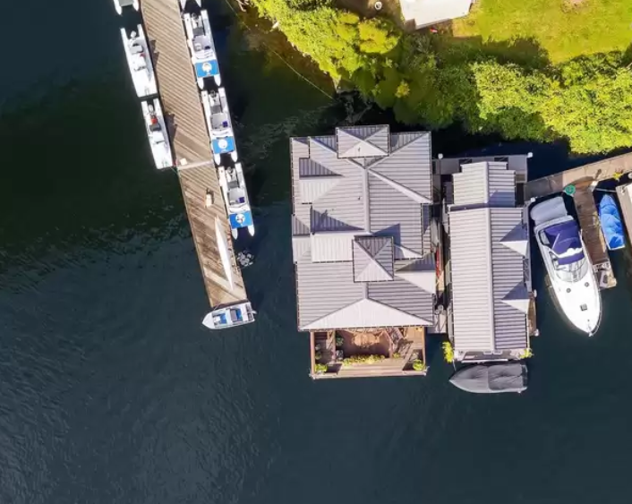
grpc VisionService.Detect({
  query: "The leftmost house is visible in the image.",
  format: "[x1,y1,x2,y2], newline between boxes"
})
[291,124,437,380]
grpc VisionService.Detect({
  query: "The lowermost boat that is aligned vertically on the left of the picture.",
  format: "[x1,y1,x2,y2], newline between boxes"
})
[217,160,253,237]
